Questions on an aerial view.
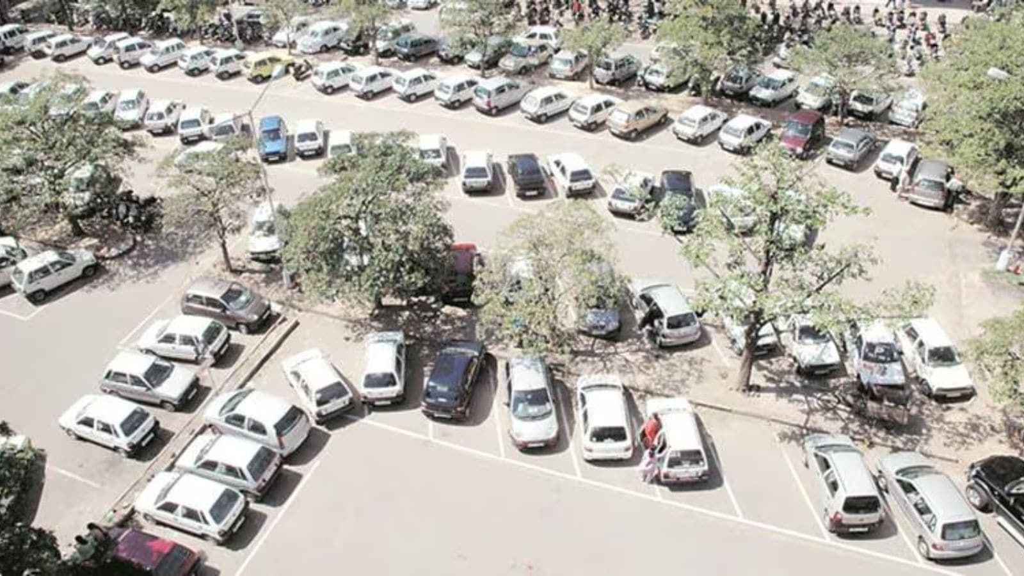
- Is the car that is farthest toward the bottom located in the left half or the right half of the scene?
left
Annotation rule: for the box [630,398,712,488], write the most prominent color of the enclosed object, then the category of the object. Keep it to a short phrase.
white car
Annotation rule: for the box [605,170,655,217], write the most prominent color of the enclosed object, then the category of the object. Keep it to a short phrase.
white car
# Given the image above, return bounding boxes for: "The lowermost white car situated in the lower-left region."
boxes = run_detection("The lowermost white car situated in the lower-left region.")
[133,469,251,545]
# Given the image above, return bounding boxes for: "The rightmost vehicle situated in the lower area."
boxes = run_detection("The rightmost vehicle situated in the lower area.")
[959,457,1024,535]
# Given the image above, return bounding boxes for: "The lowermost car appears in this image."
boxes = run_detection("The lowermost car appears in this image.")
[88,522,207,576]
